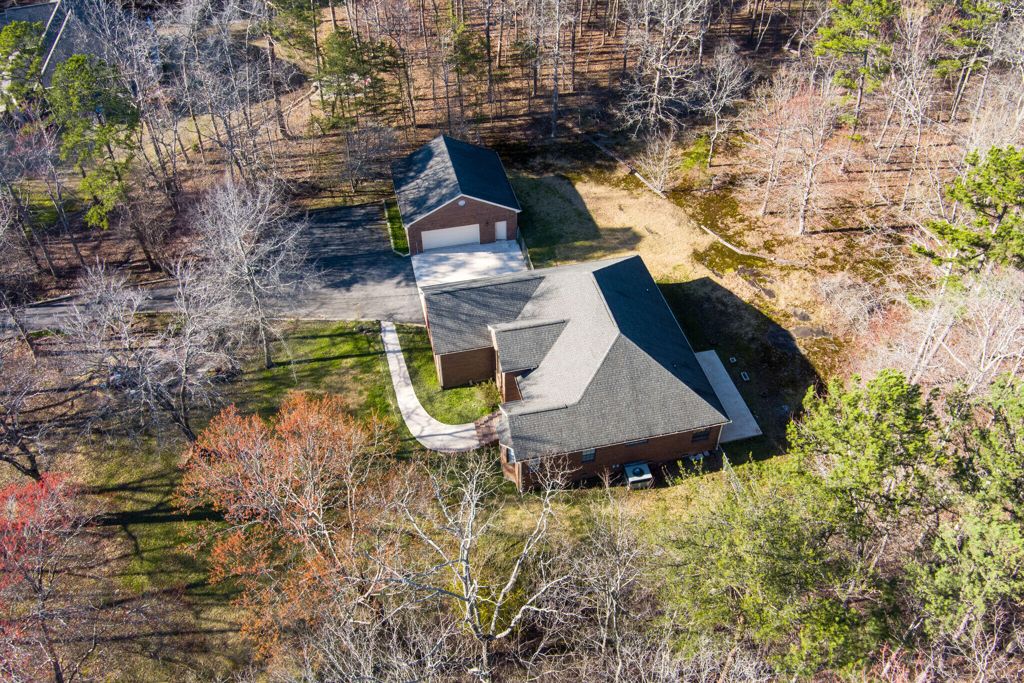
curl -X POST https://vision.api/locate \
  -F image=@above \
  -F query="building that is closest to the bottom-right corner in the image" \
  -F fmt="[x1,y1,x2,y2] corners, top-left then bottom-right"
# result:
[419,253,734,498]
